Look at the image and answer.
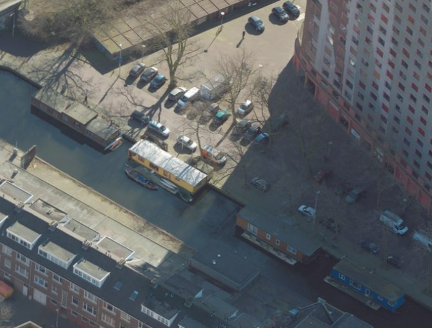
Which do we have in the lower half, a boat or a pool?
boat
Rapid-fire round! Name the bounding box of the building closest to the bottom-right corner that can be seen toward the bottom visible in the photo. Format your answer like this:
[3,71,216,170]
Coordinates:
[285,283,384,328]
